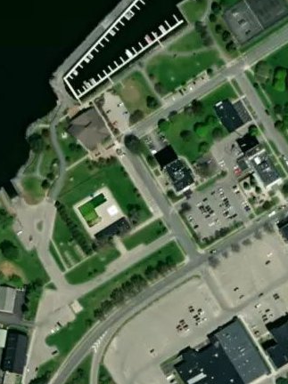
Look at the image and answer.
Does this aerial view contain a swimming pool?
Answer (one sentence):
No, there's no swimming pool here.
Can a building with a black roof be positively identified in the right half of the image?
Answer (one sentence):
Yes, a building with a black roof shows up in the right half of the image.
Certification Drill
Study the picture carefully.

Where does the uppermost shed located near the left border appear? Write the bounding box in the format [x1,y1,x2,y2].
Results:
[0,287,17,314]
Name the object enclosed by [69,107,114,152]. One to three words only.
building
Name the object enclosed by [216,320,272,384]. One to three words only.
building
